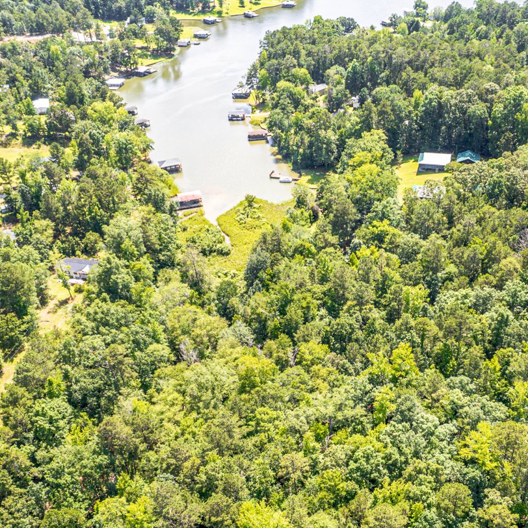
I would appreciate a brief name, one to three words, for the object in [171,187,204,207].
building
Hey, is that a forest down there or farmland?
forest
